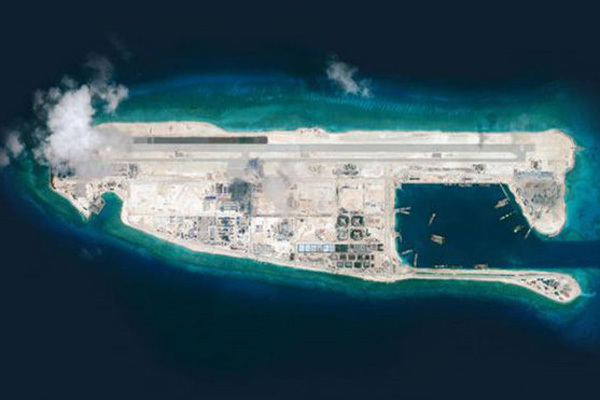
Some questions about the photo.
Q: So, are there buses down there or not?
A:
No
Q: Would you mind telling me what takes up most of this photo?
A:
water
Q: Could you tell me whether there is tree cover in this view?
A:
No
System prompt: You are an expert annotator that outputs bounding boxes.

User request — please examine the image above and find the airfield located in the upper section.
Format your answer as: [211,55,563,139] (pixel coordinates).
[104,137,535,172]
